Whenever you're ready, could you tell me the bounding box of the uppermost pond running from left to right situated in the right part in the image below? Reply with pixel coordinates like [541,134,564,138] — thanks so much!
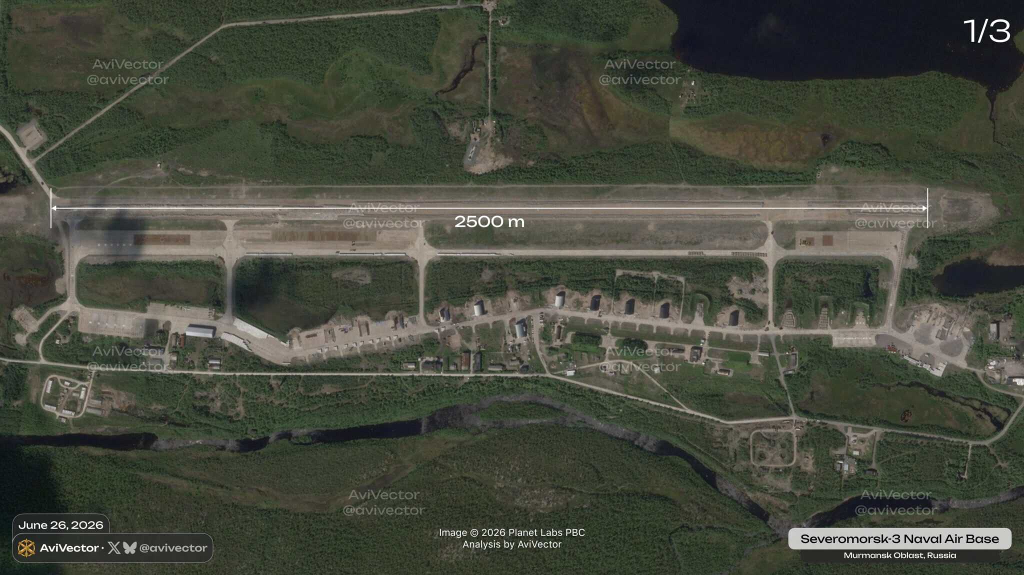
[934,258,1024,296]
